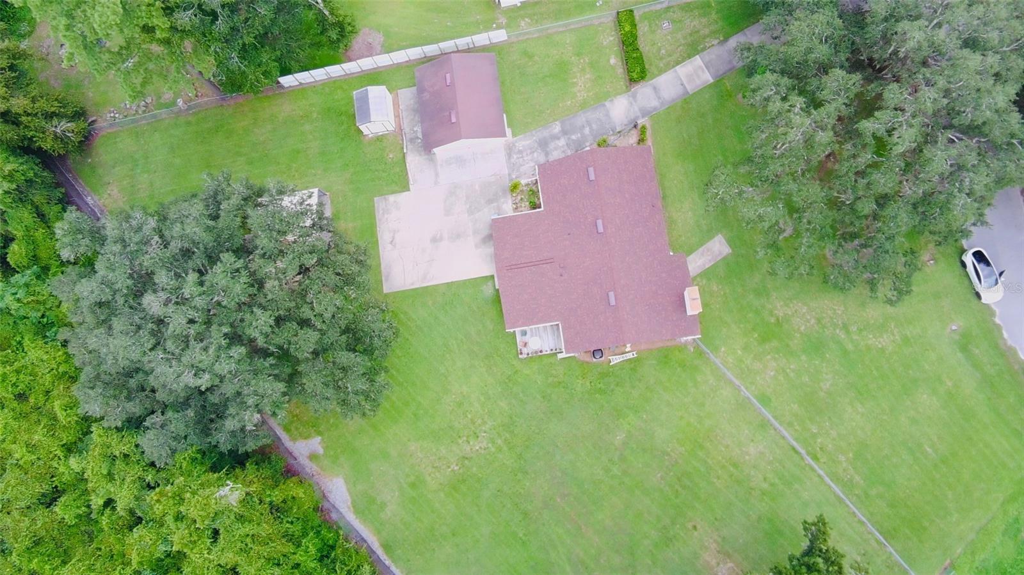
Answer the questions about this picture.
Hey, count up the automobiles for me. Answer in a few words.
1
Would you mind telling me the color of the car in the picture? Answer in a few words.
white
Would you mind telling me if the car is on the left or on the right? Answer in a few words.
right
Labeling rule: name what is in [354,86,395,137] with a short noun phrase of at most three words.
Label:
shed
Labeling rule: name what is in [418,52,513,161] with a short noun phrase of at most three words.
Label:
building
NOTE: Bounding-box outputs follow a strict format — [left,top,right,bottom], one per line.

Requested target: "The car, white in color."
[960,251,1008,306]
